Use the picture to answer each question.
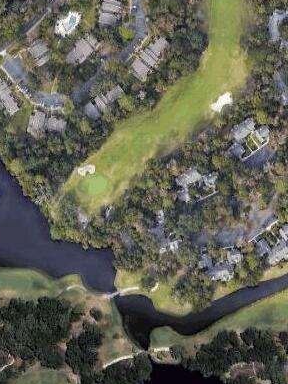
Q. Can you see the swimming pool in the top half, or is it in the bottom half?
top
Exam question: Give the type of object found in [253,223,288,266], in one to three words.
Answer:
house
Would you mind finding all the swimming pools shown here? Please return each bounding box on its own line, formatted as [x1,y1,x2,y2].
[56,11,82,37]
